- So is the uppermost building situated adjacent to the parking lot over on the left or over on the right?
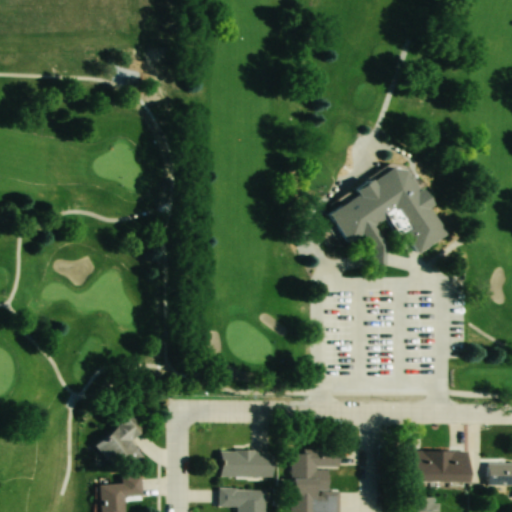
right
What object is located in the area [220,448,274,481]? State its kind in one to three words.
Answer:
house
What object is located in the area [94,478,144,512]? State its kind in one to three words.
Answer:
house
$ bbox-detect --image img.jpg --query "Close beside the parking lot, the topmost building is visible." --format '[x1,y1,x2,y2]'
[330,168,448,269]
